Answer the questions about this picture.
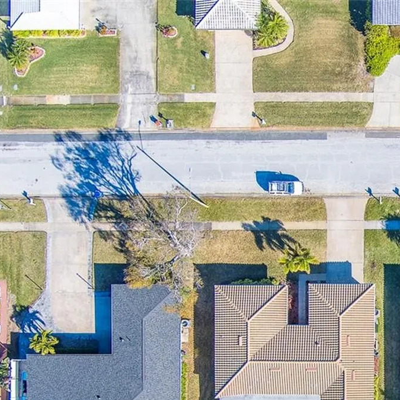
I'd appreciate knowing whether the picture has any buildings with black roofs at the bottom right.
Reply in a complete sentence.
No, looking at the bottom right, there is no building with a black roof.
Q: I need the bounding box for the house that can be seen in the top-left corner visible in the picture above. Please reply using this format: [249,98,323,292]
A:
[9,0,84,32]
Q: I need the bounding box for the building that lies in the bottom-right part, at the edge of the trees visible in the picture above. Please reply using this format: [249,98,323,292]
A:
[213,282,376,400]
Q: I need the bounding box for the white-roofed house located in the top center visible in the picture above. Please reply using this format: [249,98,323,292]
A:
[193,0,262,33]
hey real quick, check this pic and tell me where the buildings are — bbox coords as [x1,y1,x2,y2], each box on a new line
[27,284,184,400]
[213,282,376,400]
[371,0,400,29]
[9,0,84,32]
[193,0,262,33]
